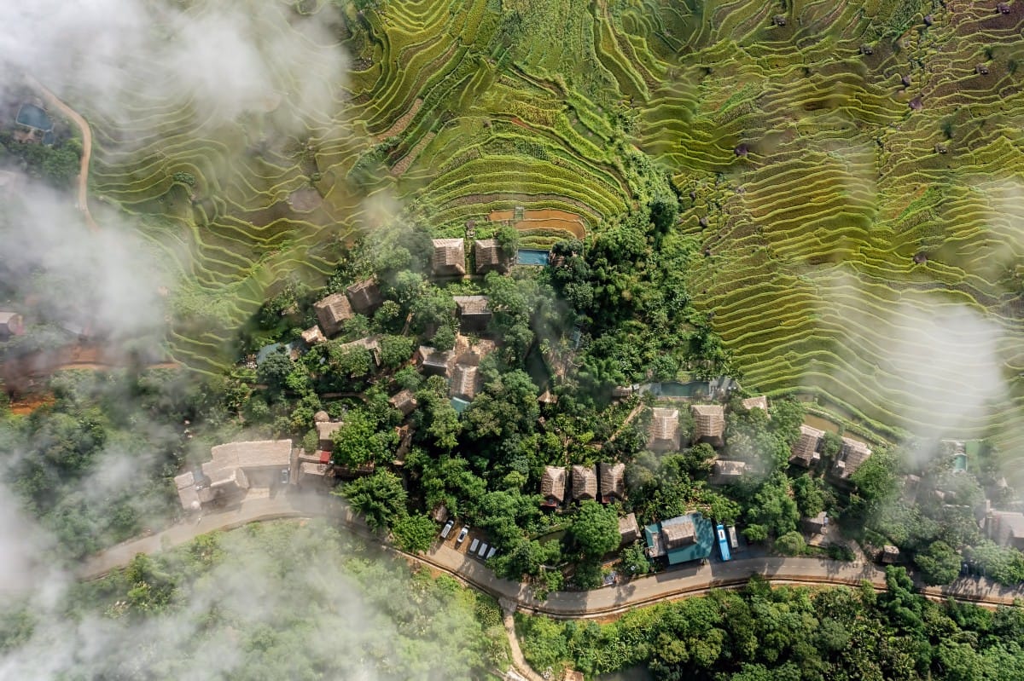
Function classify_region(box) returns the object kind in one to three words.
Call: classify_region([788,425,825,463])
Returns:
house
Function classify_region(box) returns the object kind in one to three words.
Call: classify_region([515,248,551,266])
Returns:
swimming pool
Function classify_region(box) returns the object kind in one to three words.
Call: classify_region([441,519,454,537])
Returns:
vehicle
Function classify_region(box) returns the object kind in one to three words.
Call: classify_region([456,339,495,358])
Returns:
house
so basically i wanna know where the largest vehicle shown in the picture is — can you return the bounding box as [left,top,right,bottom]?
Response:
[713,523,731,562]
